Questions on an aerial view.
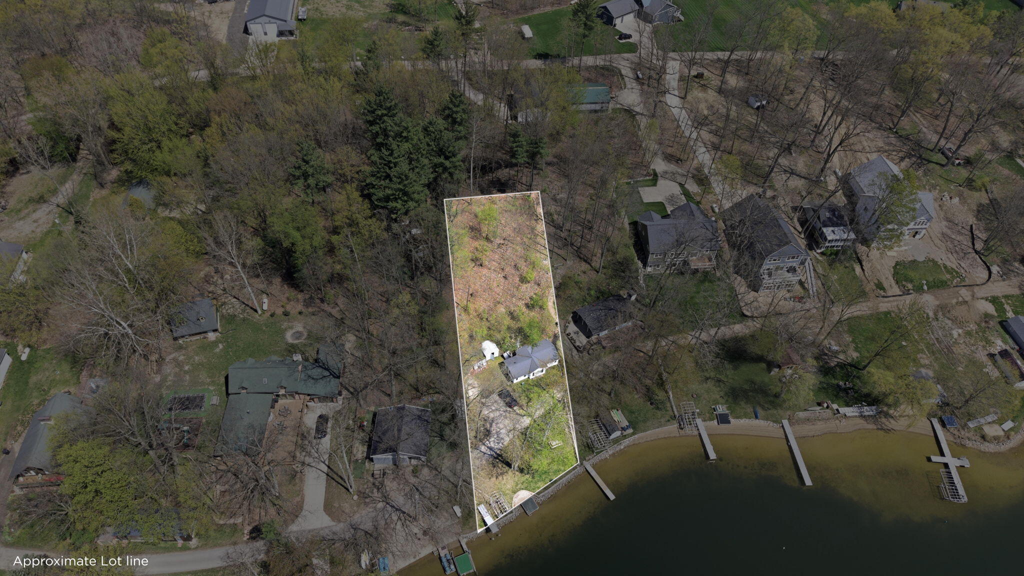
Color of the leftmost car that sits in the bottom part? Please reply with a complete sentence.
The color of the leftmost car that sits in the bottom part is black.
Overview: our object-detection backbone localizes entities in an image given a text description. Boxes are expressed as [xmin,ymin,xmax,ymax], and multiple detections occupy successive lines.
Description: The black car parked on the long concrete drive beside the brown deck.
[310,412,330,439]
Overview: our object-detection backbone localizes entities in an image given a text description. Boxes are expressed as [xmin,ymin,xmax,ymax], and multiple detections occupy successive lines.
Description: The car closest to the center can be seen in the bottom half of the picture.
[496,386,520,409]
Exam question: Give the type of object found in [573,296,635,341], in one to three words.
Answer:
building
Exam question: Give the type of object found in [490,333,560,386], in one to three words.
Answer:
house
